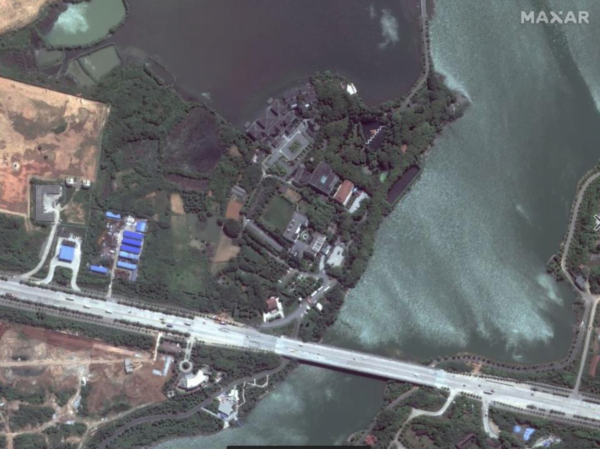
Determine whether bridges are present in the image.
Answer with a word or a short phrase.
Yes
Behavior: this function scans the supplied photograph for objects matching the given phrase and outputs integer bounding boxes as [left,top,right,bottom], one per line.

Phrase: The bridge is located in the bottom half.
[270,335,446,389]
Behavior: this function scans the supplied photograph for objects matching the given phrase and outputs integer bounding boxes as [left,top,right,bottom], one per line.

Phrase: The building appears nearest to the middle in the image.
[283,212,308,243]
